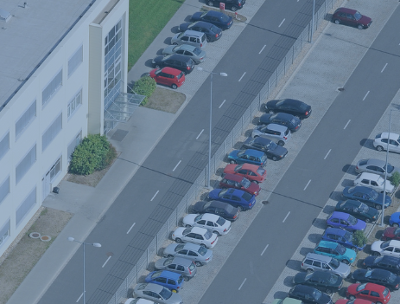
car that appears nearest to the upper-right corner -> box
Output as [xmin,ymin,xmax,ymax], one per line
[332,8,372,30]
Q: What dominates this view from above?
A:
paved ground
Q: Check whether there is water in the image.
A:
No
